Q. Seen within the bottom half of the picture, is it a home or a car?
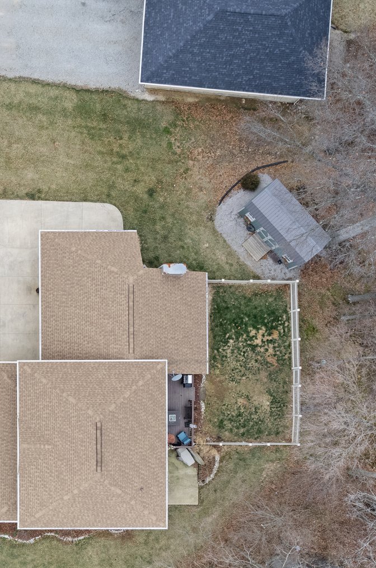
home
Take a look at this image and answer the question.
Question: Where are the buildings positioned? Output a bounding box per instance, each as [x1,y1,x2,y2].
[138,0,333,108]
[237,180,330,269]
[0,229,208,530]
